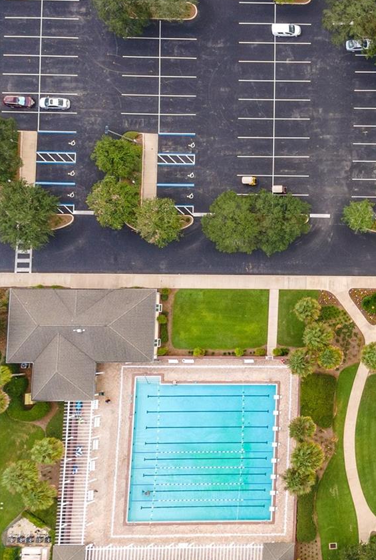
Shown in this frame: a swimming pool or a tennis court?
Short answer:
swimming pool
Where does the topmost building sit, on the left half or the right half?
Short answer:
left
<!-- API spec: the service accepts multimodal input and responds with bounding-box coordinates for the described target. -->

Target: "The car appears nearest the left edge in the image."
[4,95,35,109]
